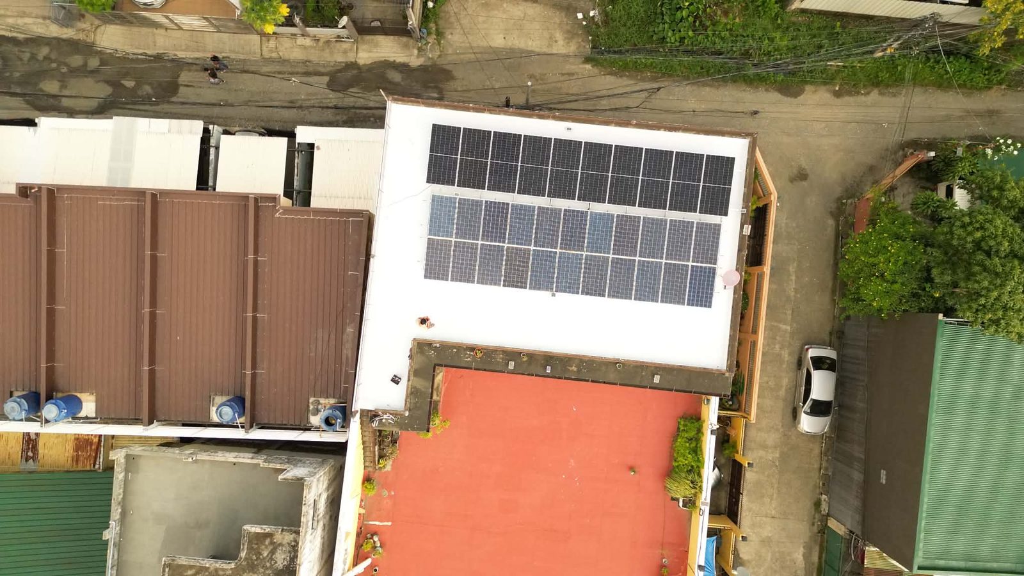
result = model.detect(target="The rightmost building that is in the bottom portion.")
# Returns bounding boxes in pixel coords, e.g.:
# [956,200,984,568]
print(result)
[829,308,1024,576]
